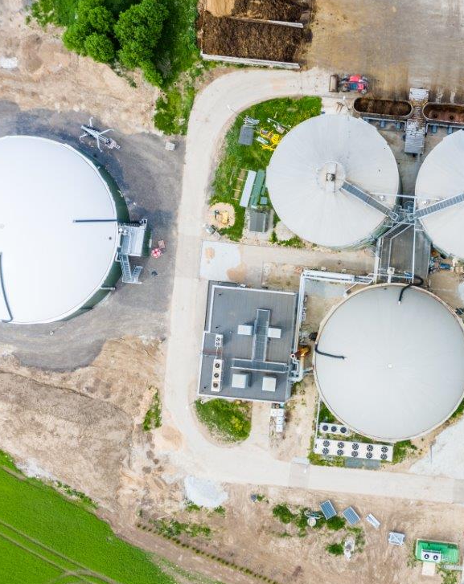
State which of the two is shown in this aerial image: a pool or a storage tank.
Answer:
storage tank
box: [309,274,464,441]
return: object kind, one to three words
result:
storage tank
